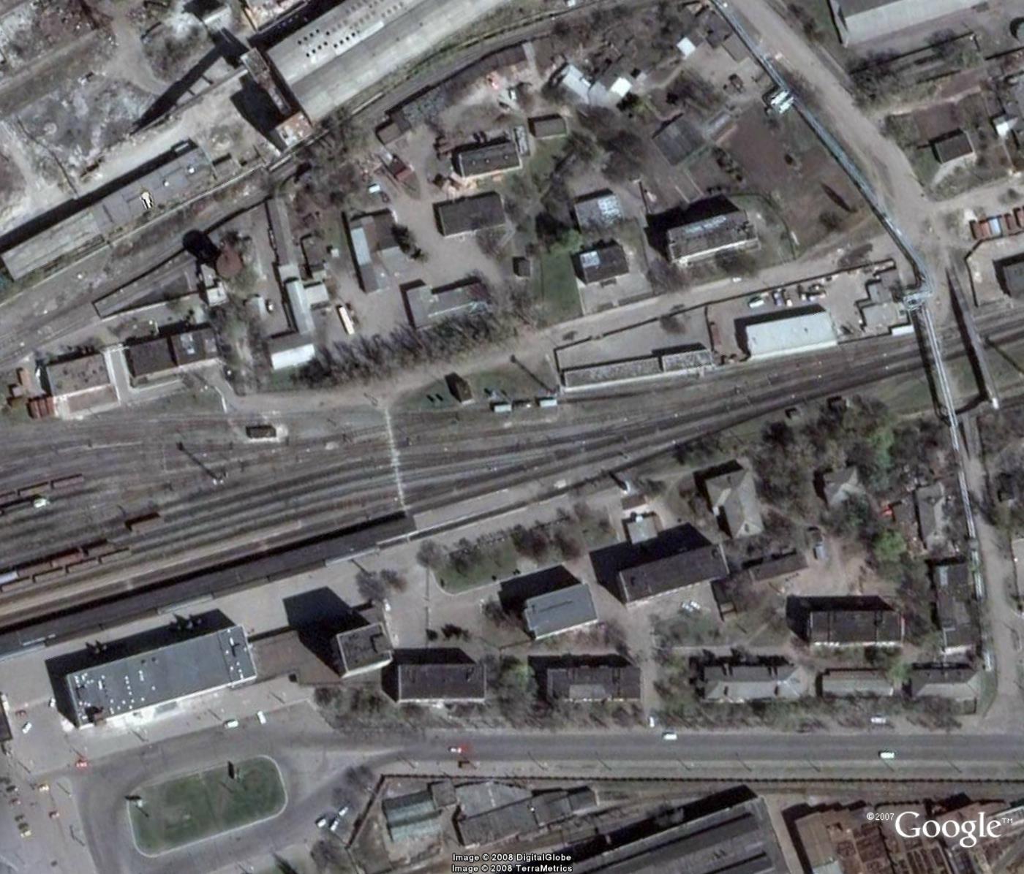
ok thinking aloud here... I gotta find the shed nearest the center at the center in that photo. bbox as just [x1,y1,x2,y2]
[454,374,473,403]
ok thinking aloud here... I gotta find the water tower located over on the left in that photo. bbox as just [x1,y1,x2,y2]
[214,252,242,280]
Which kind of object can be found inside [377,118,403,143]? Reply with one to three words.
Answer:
building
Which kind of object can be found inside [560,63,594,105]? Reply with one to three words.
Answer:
shed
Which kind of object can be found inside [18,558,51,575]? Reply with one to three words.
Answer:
rail car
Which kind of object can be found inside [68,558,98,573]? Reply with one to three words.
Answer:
rail car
